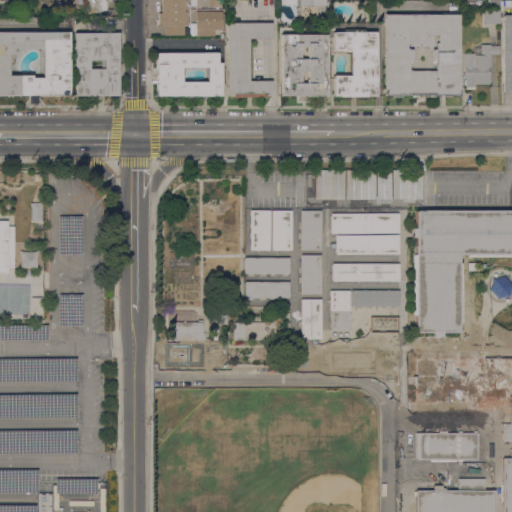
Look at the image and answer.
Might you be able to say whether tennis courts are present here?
No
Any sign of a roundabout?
No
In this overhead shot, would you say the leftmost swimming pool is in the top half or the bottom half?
top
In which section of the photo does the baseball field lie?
bottom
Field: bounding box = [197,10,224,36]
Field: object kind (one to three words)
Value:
house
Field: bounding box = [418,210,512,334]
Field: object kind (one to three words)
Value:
building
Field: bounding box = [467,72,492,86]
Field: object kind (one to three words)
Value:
house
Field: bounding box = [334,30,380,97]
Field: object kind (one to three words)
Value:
building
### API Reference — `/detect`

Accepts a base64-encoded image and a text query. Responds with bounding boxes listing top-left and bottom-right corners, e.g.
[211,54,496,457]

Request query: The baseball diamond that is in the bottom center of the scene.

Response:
[154,387,384,512]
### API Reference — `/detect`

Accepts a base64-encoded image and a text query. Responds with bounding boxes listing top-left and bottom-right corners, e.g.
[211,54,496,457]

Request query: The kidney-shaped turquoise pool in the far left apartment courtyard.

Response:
[18,50,40,74]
